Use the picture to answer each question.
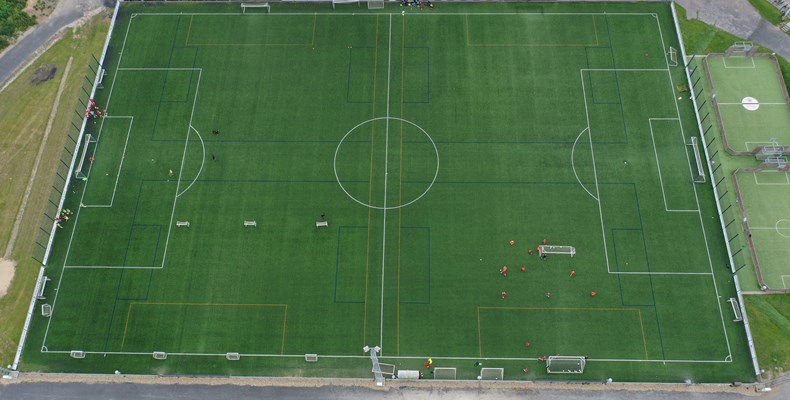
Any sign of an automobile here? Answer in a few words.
No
